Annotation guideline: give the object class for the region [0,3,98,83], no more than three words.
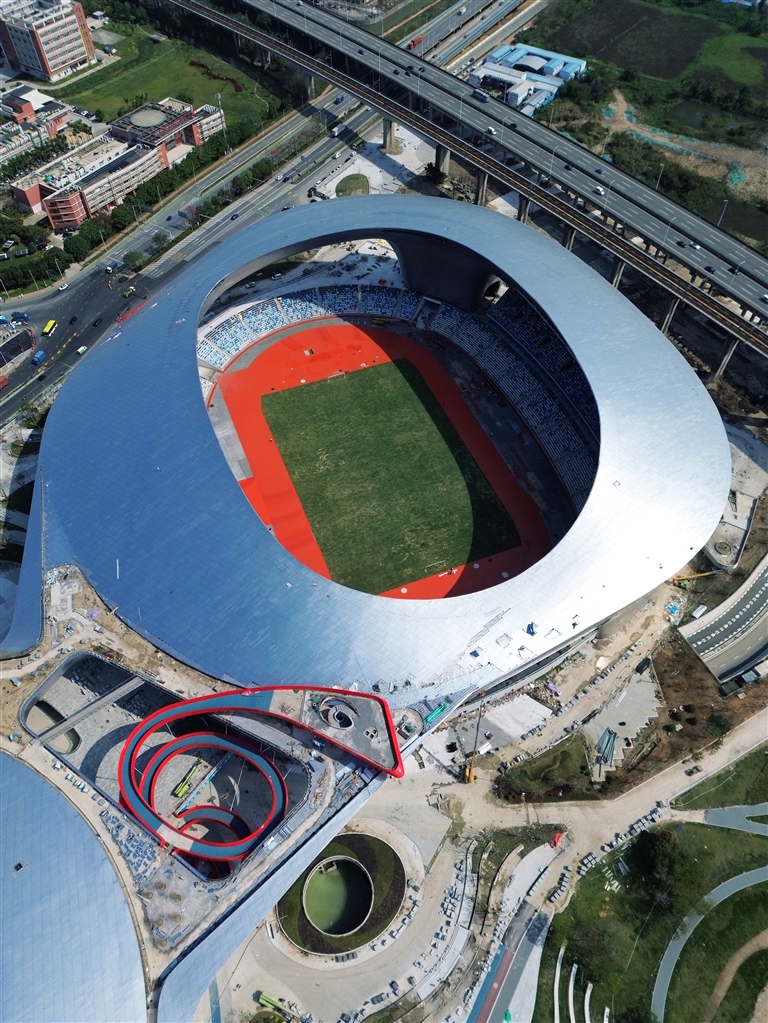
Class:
building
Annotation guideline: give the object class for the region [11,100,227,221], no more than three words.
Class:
building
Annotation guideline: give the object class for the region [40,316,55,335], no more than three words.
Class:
vehicle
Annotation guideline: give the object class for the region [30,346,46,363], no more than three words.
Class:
vehicle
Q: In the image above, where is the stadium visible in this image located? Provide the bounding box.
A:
[43,195,732,739]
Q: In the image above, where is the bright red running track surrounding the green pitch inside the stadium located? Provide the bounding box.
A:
[215,325,552,598]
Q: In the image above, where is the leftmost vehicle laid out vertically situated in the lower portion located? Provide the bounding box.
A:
[463,700,482,785]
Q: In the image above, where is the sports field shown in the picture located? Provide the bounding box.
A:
[262,359,521,595]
